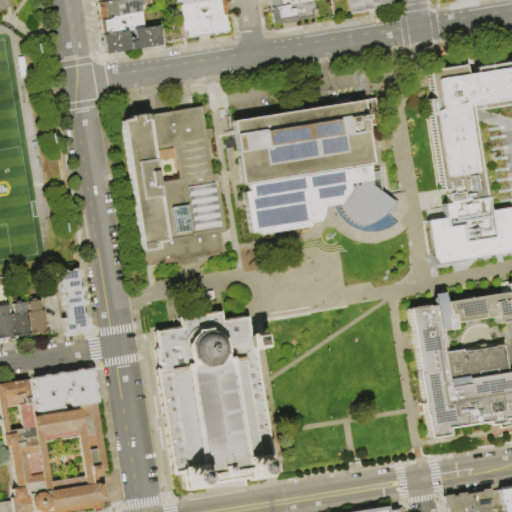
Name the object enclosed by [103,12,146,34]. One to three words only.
building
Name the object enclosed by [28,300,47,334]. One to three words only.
house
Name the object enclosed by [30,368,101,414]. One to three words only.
building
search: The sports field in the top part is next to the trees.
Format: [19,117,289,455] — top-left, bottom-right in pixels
[0,34,43,268]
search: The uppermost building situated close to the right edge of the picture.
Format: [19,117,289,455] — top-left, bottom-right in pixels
[426,58,512,202]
